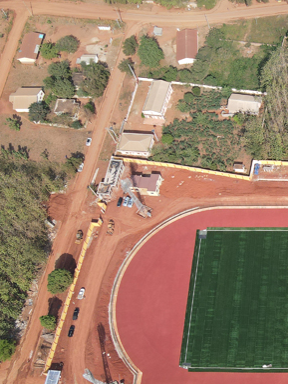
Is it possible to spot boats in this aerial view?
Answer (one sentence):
No, there isn't any boat down there.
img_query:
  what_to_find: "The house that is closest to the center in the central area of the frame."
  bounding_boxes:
[133,174,159,194]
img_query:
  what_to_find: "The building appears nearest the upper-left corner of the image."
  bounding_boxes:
[17,31,47,63]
